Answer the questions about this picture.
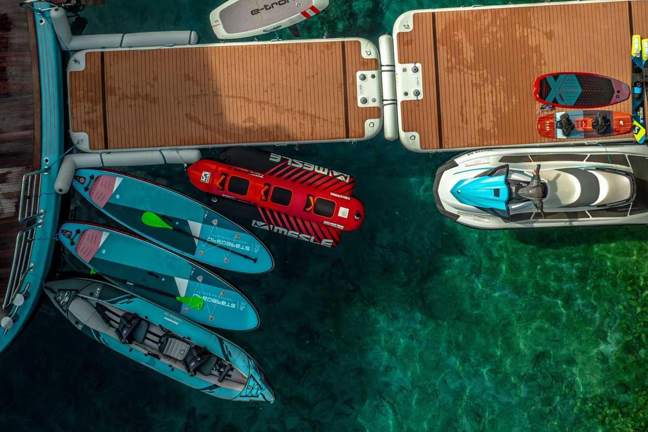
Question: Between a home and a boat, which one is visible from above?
boat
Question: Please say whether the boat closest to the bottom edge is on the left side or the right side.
left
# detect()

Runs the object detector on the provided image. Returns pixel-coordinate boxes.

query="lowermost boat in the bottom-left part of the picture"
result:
[44,277,276,403]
